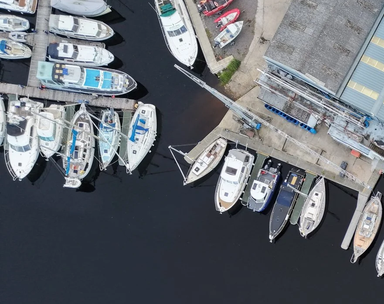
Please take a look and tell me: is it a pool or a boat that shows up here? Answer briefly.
boat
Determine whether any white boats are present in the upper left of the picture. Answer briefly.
Yes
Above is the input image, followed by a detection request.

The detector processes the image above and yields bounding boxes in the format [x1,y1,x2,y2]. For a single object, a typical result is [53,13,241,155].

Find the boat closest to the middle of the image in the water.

[166,141,230,186]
